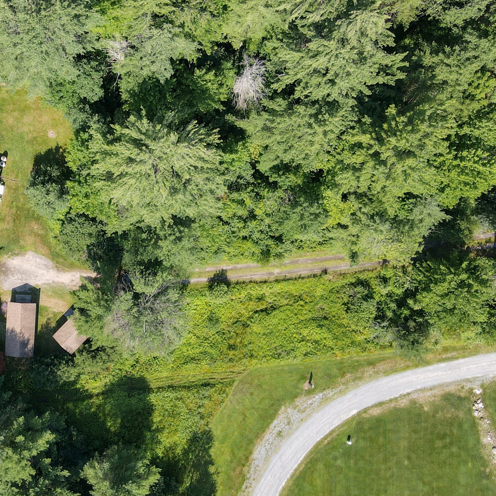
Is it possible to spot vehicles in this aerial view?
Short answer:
No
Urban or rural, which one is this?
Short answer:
rural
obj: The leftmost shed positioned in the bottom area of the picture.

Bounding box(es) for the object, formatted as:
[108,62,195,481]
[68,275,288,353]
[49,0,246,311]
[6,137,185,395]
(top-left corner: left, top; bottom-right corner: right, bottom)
[4,290,37,358]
